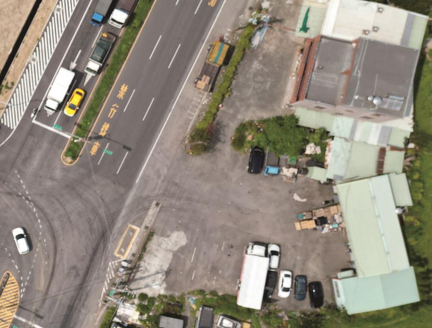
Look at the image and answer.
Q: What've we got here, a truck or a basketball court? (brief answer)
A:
truck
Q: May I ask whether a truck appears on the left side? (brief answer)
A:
Yes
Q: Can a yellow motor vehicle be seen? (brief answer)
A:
Yes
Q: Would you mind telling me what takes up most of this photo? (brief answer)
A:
paved ground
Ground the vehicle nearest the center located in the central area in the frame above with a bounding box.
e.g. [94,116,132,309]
[248,146,264,174]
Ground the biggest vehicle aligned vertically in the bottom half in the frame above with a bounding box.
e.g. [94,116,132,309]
[238,241,267,309]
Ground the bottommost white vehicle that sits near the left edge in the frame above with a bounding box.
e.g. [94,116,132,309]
[13,227,29,255]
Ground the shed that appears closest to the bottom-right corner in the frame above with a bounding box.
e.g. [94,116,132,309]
[326,267,420,315]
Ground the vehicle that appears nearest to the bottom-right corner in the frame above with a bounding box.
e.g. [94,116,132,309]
[310,281,325,308]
